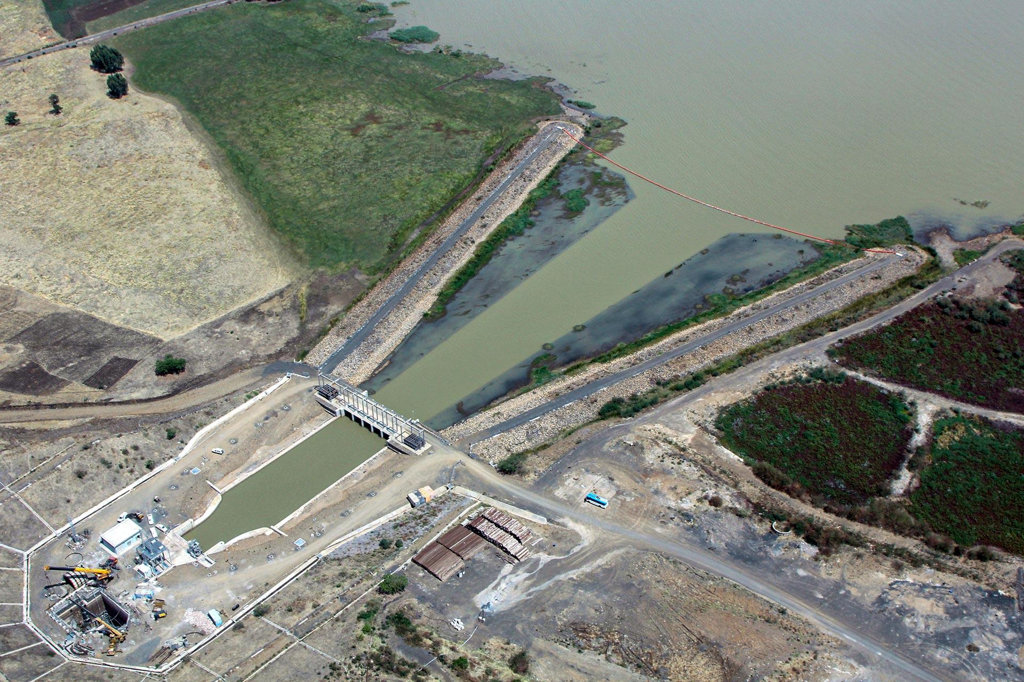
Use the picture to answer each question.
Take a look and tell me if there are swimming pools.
No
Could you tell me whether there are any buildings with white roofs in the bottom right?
No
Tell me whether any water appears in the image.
Yes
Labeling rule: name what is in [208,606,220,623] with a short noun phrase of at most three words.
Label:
vehicle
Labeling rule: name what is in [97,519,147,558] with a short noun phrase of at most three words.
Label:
building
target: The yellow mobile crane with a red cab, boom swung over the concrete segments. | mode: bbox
[44,554,117,585]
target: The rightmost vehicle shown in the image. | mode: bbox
[584,491,609,505]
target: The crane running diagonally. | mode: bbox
[66,596,131,654]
